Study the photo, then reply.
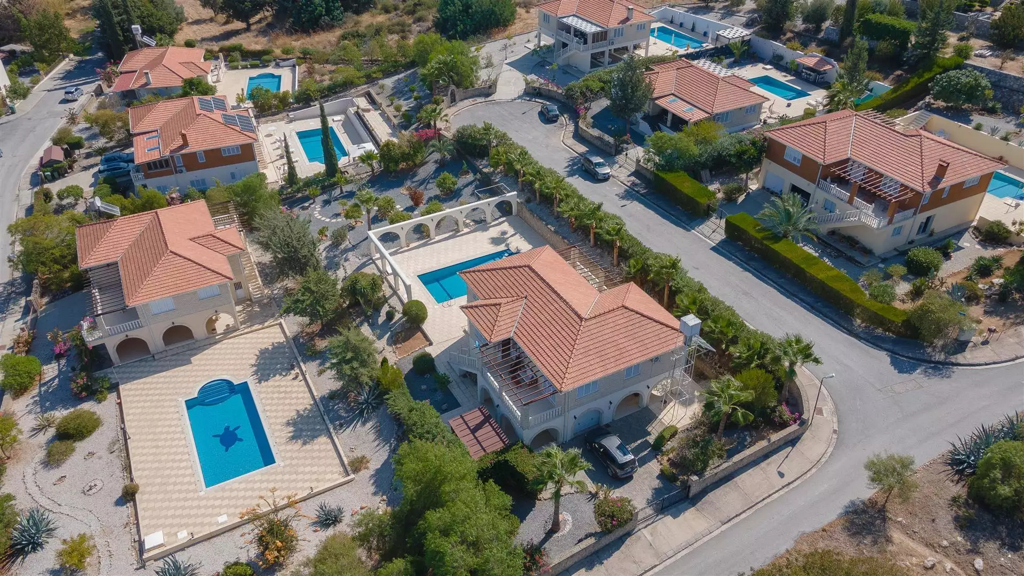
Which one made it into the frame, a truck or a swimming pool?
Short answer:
swimming pool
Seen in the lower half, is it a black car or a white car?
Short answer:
black car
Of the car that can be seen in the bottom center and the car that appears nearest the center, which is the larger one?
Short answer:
the car that can be seen in the bottom center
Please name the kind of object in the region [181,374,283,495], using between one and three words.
swimming pool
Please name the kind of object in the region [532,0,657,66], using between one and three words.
house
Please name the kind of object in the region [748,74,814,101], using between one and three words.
swimming pool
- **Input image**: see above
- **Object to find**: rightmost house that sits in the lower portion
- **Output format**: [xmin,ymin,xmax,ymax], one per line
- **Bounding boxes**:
[451,244,698,456]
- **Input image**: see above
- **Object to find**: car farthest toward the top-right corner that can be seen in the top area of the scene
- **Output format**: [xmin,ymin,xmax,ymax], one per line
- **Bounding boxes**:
[583,152,609,176]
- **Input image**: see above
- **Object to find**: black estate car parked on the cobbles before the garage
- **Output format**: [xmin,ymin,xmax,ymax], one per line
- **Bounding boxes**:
[587,426,641,477]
